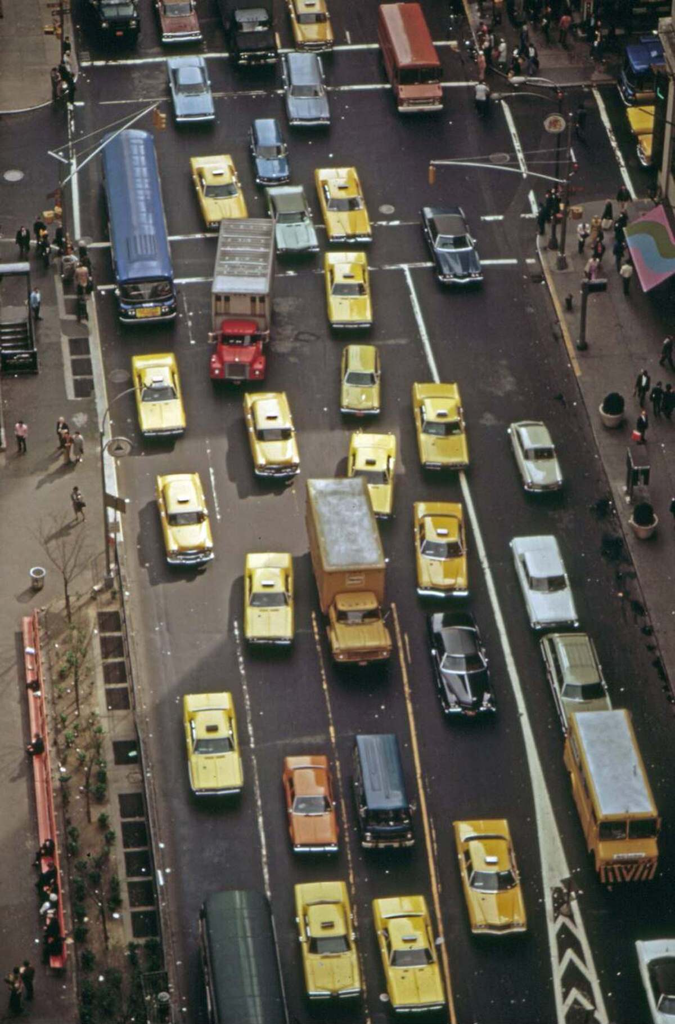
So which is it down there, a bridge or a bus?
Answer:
bus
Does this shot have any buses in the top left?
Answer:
Yes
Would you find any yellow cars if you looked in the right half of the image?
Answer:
Yes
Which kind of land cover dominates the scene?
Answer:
paved ground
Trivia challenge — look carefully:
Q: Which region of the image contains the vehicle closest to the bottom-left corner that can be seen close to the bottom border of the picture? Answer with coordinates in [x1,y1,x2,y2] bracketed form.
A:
[206,894,289,1024]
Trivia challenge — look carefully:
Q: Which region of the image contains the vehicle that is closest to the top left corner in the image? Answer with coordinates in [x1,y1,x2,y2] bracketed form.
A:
[93,0,141,45]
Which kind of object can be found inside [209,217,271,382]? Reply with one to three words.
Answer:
truck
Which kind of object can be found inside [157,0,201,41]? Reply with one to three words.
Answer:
car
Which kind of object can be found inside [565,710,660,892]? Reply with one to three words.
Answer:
van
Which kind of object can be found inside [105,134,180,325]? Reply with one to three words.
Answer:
bus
